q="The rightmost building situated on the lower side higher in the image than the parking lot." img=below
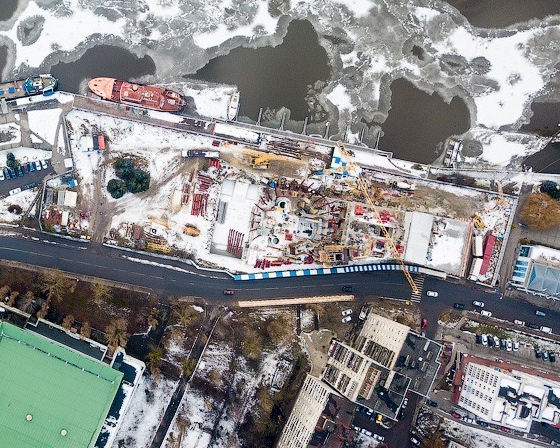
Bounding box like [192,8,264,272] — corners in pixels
[501,244,560,301]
